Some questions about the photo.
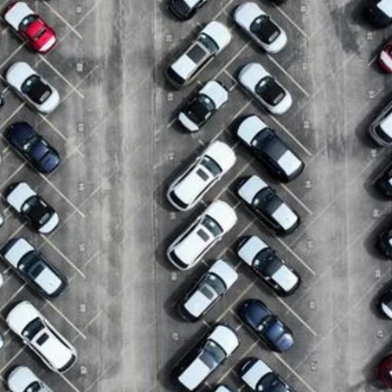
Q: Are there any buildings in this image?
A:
No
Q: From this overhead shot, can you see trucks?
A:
No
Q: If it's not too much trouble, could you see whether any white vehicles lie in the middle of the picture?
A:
Yes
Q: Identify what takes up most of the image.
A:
paved ground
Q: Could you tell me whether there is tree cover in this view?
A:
No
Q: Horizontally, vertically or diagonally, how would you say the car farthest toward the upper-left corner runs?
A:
diagonally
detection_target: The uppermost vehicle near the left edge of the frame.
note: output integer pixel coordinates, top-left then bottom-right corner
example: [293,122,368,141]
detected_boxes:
[5,2,54,52]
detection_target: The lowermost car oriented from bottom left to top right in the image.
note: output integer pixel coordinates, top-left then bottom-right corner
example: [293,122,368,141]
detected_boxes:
[171,323,237,392]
